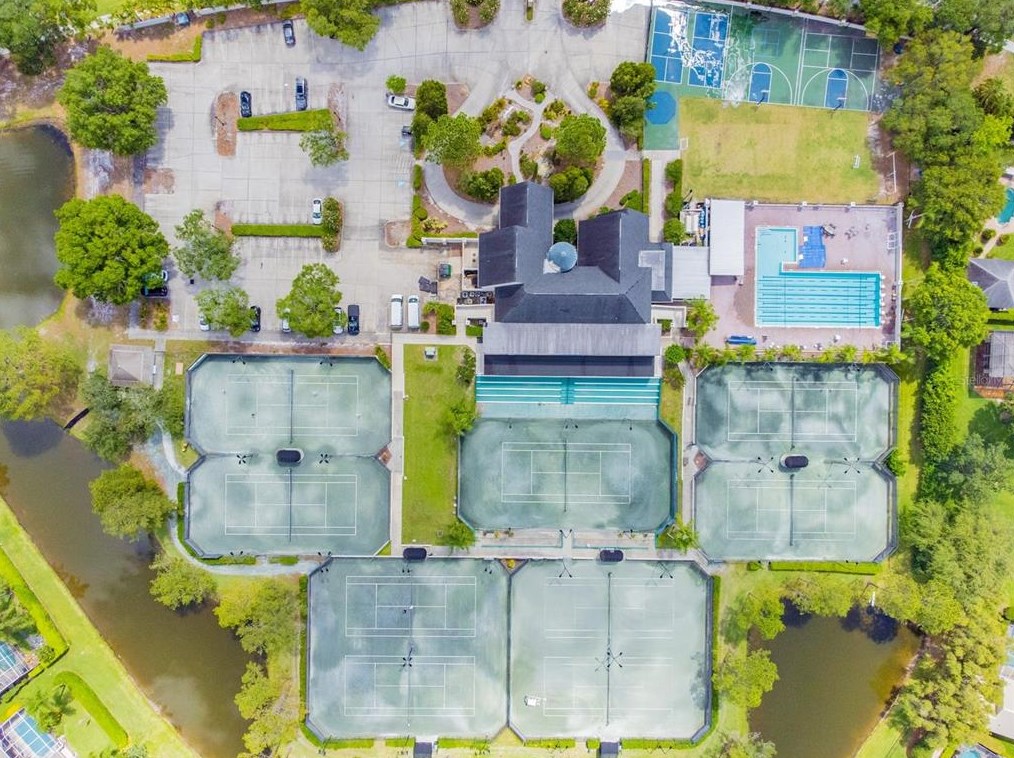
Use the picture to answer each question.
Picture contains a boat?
No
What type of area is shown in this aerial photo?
sports ground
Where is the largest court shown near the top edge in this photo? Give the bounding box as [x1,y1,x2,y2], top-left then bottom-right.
[646,2,878,151]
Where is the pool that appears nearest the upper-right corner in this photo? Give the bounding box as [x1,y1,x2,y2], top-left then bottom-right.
[988,188,1014,233]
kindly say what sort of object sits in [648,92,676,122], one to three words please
sports court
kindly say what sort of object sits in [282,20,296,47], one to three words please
vehicle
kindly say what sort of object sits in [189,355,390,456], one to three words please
tennis court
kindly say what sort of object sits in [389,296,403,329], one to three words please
vehicle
